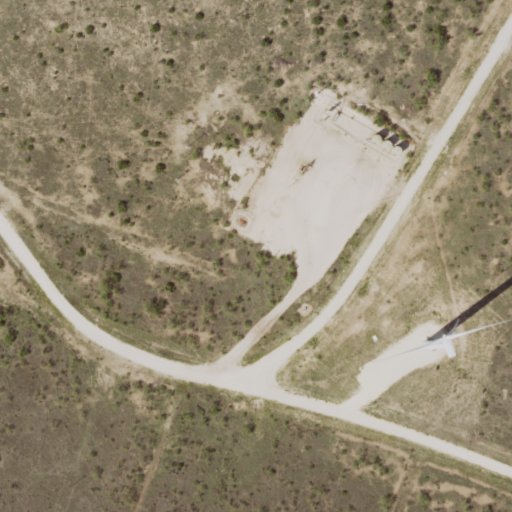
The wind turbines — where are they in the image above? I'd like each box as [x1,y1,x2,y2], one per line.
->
[367,317,508,364]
